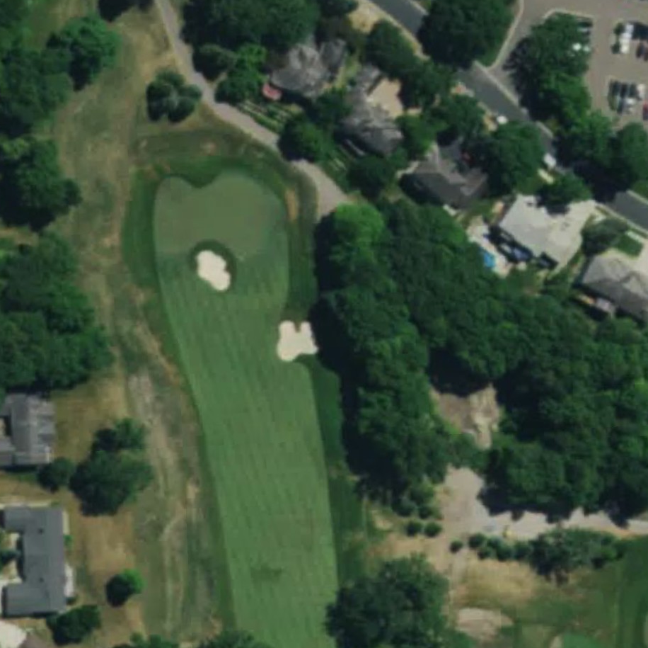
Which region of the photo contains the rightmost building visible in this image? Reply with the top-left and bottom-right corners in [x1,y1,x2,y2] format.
[578,247,648,320]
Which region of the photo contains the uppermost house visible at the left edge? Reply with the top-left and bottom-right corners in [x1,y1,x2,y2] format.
[0,391,55,469]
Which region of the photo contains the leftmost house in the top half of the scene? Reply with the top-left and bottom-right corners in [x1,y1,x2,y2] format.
[269,31,351,97]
